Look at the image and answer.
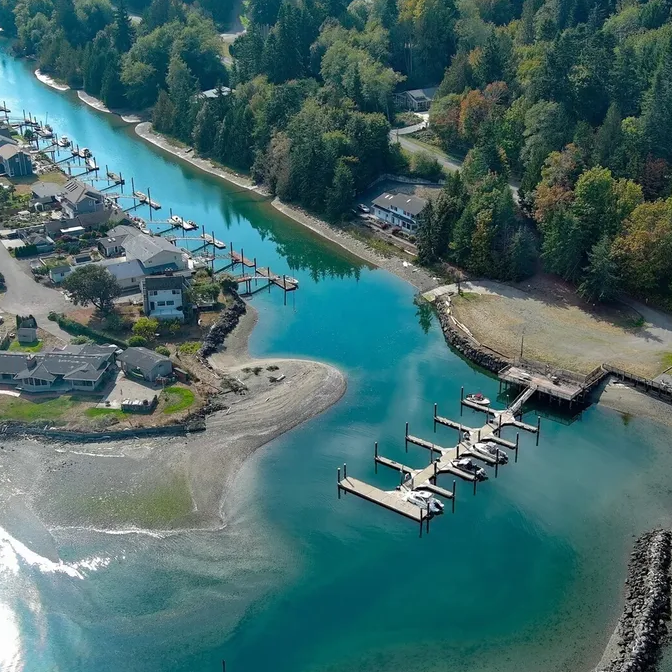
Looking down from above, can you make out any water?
Yes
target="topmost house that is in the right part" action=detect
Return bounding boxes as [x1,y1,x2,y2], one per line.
[400,91,438,113]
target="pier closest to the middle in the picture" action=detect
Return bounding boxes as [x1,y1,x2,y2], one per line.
[235,267,299,294]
